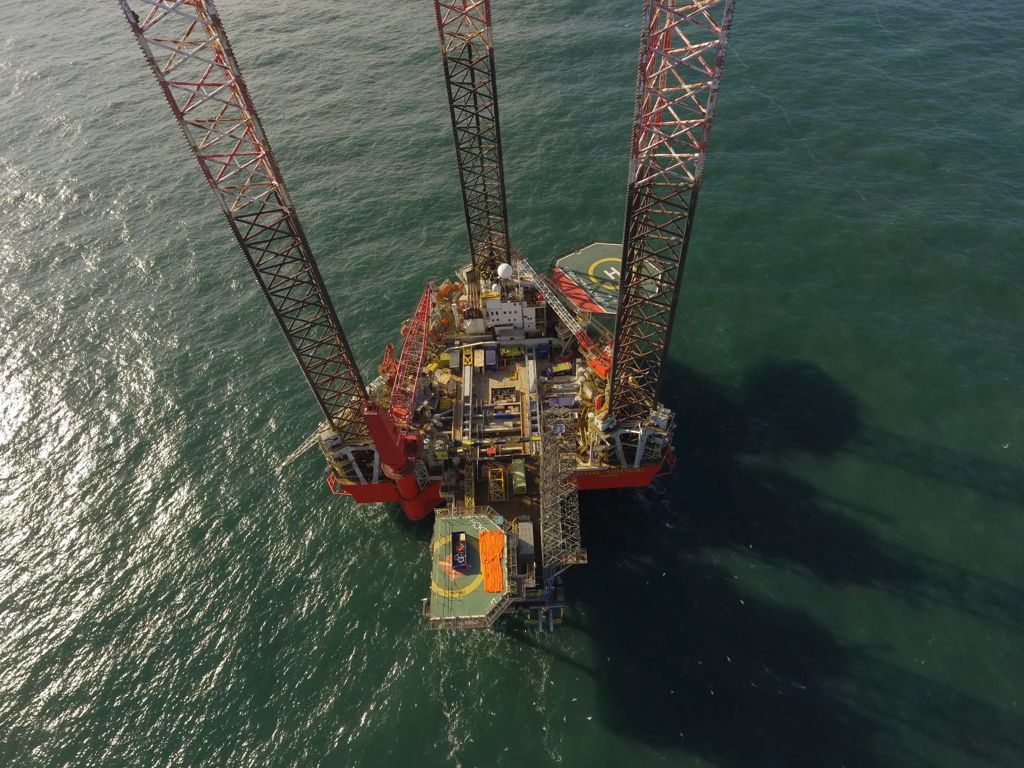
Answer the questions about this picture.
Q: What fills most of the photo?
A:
water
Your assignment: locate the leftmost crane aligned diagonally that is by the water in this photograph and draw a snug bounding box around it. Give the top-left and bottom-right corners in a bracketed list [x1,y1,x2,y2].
[278,338,410,472]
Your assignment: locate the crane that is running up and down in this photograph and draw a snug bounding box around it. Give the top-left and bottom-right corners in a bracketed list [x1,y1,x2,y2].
[368,283,437,507]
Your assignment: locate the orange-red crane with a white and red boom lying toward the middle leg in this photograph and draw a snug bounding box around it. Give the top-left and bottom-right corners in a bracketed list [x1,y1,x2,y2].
[502,239,627,384]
